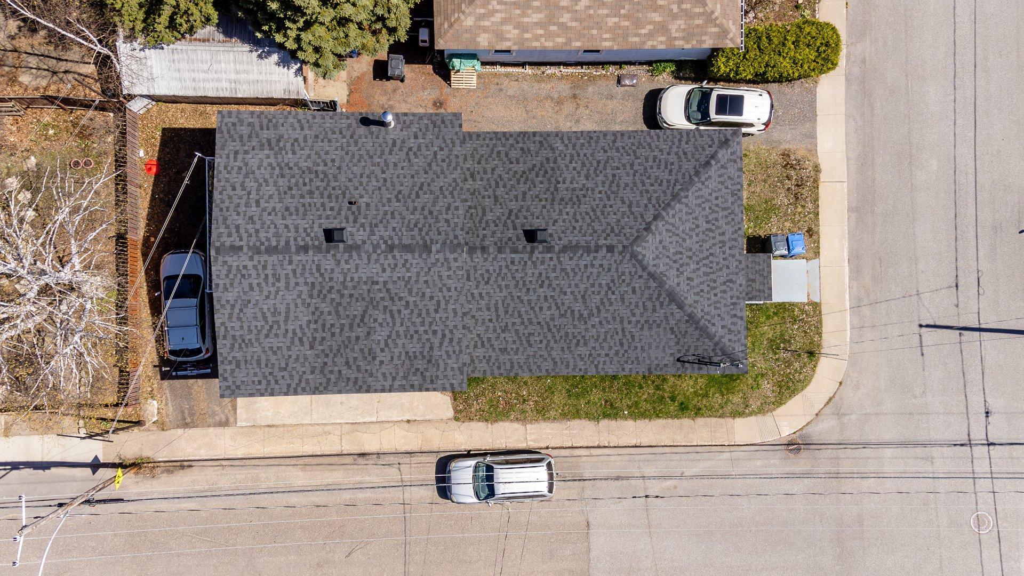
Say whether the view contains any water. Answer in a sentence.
No, no water is visible.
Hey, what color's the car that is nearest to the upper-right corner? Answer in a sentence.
The color of the car that is nearest to the upper-right corner is white.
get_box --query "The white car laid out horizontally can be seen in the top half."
[656,79,773,138]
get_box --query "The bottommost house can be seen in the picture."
[195,111,807,398]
